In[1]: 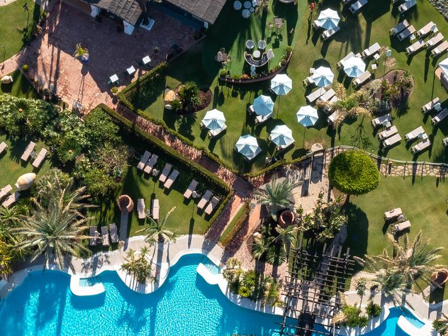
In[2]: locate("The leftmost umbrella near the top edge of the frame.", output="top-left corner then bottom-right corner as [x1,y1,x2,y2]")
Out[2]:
[318,9,339,32]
